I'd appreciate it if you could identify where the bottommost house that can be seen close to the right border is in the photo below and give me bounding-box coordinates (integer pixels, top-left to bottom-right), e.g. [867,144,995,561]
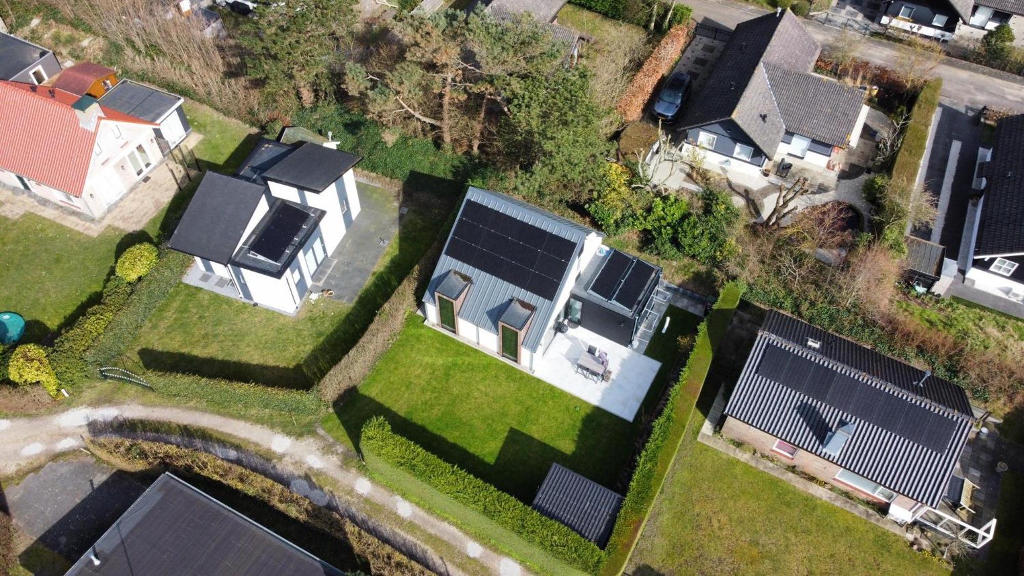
[724,307,976,529]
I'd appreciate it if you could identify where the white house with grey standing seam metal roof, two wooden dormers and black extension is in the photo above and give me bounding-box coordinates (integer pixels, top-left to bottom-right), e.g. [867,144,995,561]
[421,184,664,373]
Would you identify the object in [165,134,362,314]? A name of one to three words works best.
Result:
house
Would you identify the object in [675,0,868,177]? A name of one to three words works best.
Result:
house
